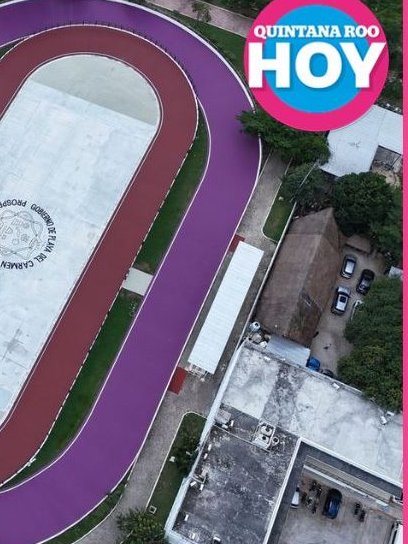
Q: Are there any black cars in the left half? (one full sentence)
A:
No, I can find no black car in the left half.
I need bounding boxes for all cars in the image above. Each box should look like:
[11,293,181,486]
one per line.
[322,369,336,381]
[324,487,344,521]
[339,255,358,281]
[355,270,374,295]
[330,288,349,316]
[306,357,317,371]
[288,483,307,511]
